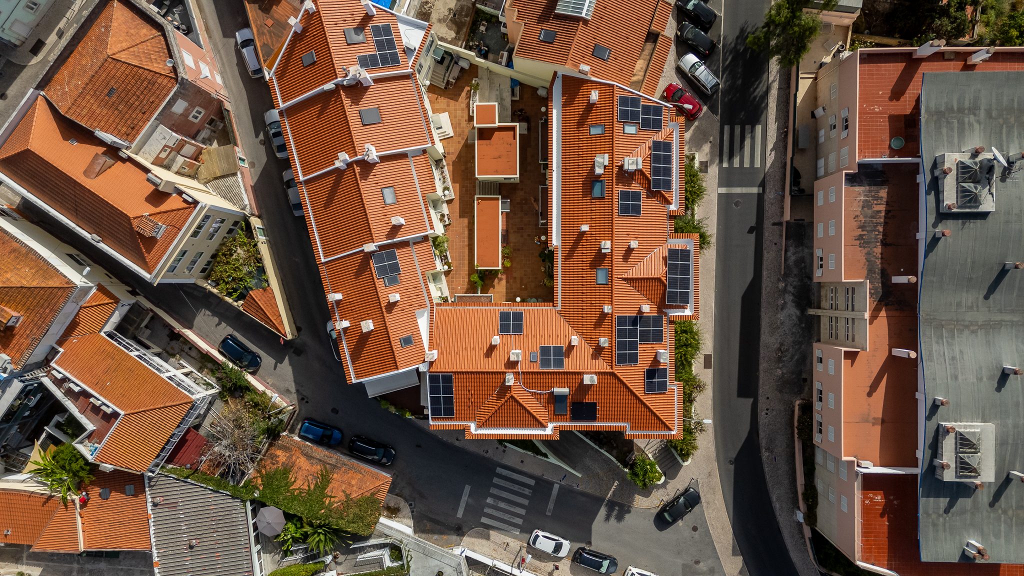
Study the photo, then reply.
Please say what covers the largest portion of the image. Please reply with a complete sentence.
For the most part, this view shows buildings.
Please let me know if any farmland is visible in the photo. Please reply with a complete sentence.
No, farmland can't be seen anywhere here.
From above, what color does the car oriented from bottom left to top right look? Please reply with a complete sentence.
The car oriented from bottom left to top right looks black in the image.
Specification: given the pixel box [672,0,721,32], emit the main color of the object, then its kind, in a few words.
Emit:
black car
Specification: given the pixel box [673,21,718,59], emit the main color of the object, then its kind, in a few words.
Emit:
black car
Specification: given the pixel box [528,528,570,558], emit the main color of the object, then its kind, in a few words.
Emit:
white car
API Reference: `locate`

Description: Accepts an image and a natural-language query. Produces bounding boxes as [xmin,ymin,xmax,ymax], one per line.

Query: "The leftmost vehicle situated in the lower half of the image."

[217,334,264,370]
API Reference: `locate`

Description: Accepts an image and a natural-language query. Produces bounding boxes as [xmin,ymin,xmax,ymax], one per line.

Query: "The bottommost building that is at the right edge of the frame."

[808,40,1024,576]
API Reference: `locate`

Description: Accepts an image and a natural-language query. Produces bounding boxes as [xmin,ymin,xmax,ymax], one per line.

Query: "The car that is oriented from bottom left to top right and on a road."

[653,486,702,530]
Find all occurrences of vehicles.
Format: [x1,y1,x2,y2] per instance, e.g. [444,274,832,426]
[324,320,342,365]
[299,419,345,446]
[571,544,617,575]
[659,82,705,125]
[528,528,570,558]
[281,170,305,217]
[262,110,290,160]
[674,53,723,98]
[237,29,267,78]
[217,334,264,370]
[672,0,721,32]
[617,560,664,576]
[653,486,702,530]
[673,21,718,59]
